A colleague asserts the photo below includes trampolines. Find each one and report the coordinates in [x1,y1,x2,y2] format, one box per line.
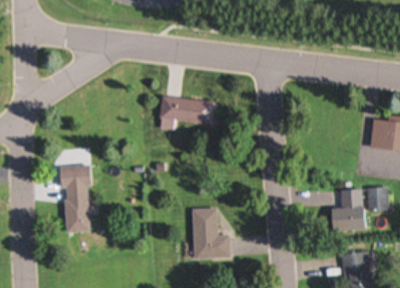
[374,216,387,229]
[108,165,119,176]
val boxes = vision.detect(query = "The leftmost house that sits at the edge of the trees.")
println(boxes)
[60,166,92,232]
